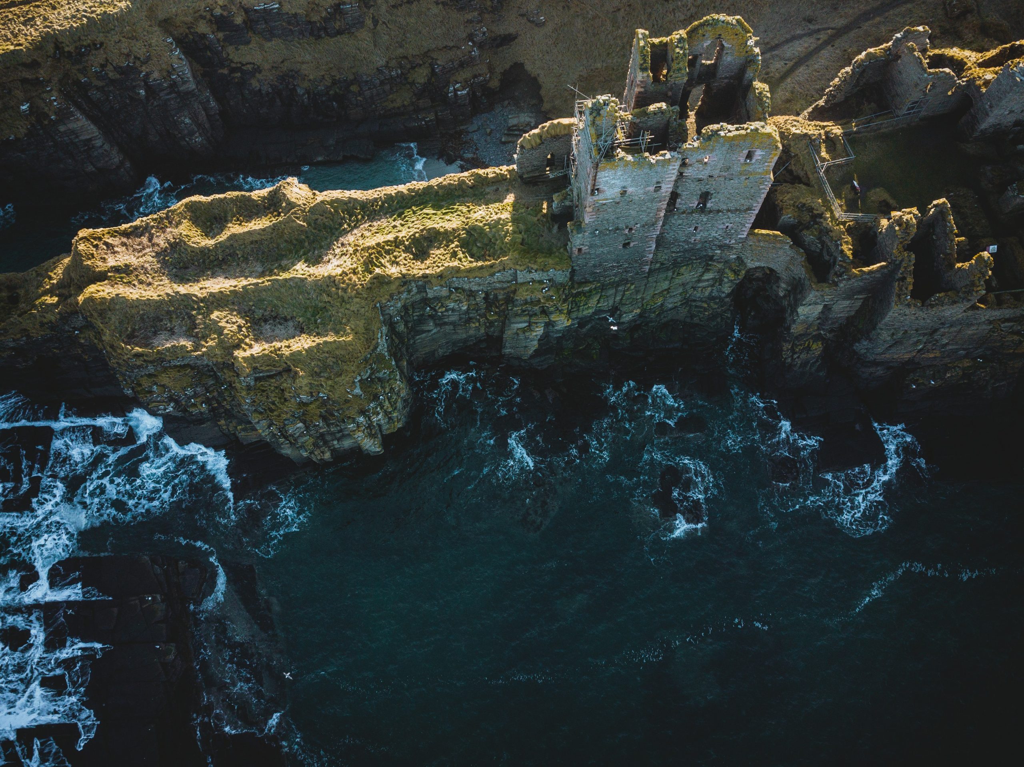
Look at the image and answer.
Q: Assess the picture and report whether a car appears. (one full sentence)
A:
No, the frame has no car in it.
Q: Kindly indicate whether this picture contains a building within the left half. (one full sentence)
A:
No, I can find no building within the left half.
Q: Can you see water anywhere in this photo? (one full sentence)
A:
Yes, the picture does contain water.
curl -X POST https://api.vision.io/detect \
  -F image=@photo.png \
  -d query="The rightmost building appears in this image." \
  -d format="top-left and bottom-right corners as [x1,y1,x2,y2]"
[861,180,1005,338]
